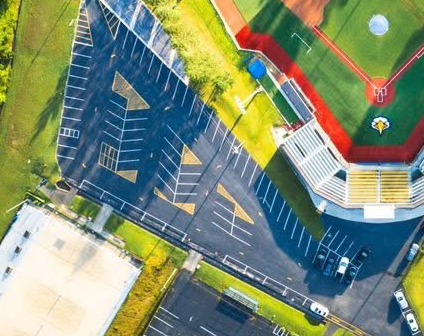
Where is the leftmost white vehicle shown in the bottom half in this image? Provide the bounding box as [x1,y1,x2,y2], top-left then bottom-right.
[309,303,329,320]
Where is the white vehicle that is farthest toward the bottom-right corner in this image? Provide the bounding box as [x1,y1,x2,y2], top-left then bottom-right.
[407,313,421,333]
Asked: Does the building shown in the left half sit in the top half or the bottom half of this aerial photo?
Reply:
bottom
